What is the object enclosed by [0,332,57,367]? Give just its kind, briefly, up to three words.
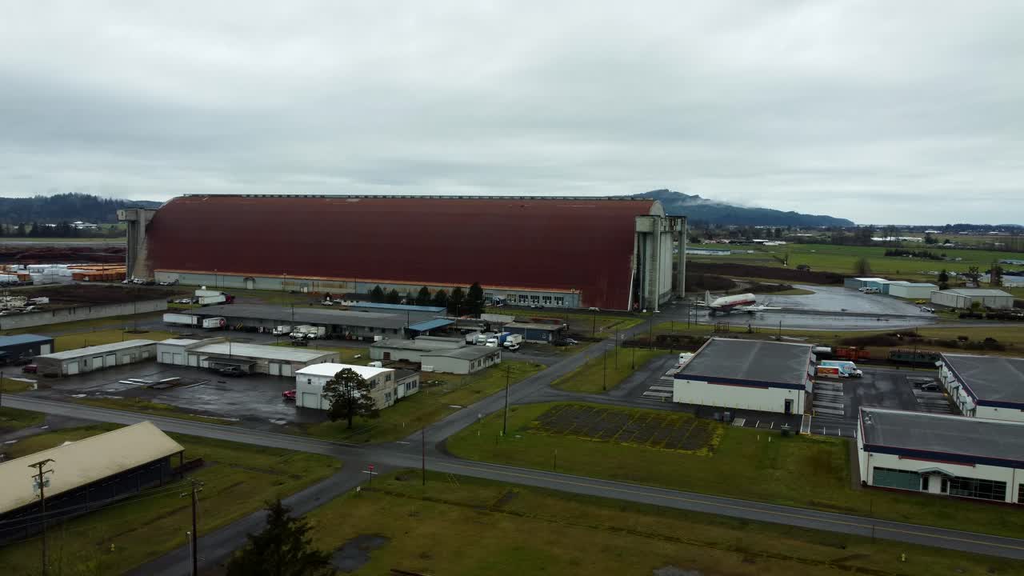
shed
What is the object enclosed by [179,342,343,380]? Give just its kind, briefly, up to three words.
building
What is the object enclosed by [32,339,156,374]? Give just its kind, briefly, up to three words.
building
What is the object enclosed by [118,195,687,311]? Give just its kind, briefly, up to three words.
hangar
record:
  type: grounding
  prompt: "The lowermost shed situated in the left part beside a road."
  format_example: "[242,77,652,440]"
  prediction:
[0,421,188,548]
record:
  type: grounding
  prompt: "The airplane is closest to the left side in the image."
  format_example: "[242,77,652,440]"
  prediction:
[686,289,782,312]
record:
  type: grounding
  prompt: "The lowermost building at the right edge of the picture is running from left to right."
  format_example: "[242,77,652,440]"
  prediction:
[859,406,1024,506]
